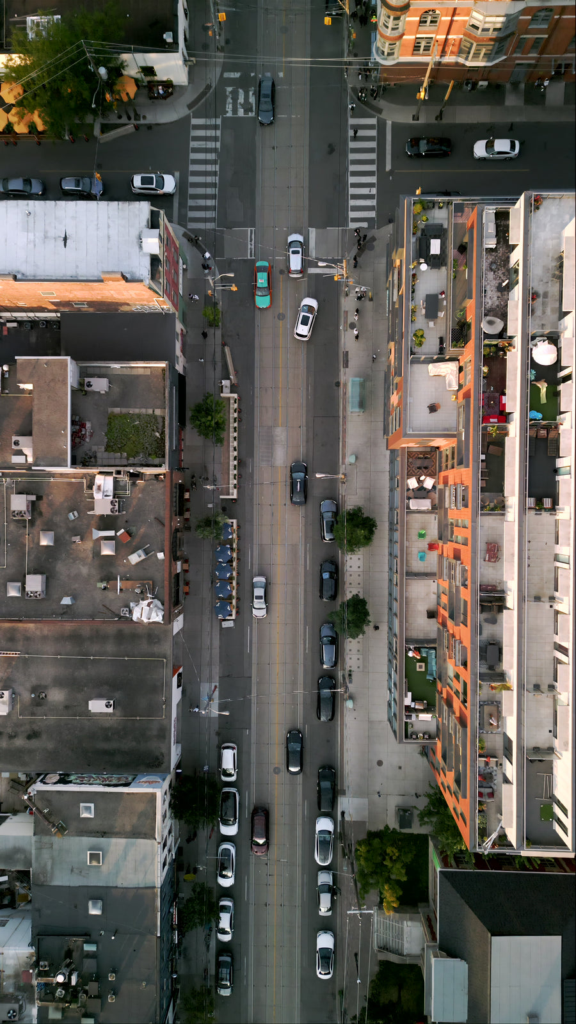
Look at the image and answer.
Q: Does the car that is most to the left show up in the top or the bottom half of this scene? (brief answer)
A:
top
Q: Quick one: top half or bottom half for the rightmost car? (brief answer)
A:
top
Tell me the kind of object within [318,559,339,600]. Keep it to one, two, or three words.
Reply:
car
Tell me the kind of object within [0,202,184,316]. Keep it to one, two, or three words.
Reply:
building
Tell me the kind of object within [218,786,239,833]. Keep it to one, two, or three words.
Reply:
car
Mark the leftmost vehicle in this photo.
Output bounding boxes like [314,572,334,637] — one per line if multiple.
[0,175,46,198]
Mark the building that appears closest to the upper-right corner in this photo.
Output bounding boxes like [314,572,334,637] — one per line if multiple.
[370,0,576,87]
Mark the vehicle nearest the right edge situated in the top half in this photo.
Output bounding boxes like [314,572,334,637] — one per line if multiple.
[472,138,518,162]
